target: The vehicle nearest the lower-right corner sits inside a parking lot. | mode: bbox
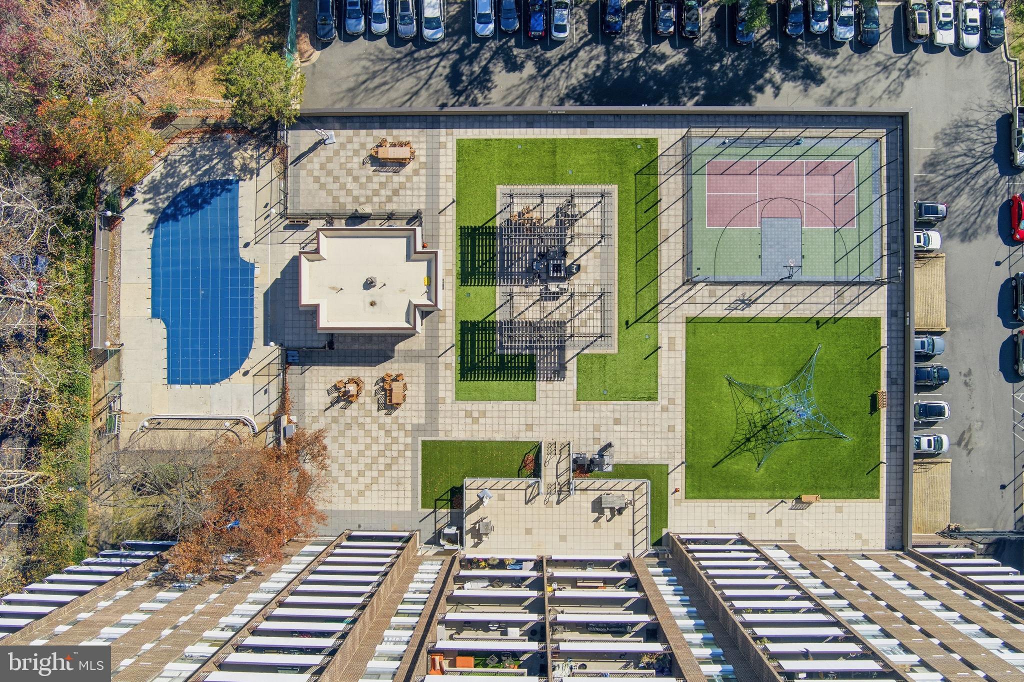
[914,432,949,455]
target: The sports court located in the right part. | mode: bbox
[688,138,881,283]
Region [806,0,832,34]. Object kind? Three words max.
car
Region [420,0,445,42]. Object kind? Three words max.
car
